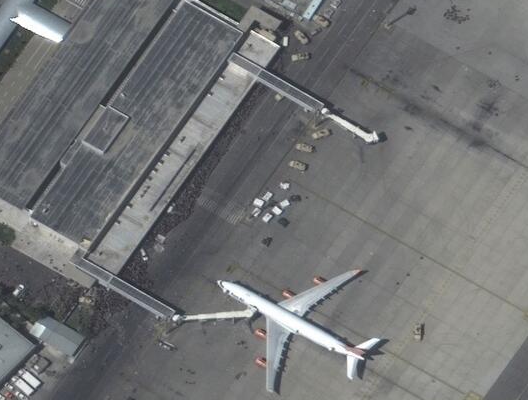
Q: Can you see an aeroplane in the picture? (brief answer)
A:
Yes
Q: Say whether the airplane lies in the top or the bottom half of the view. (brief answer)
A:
bottom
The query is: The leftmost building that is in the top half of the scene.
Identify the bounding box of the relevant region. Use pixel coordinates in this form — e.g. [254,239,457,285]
[0,0,258,277]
